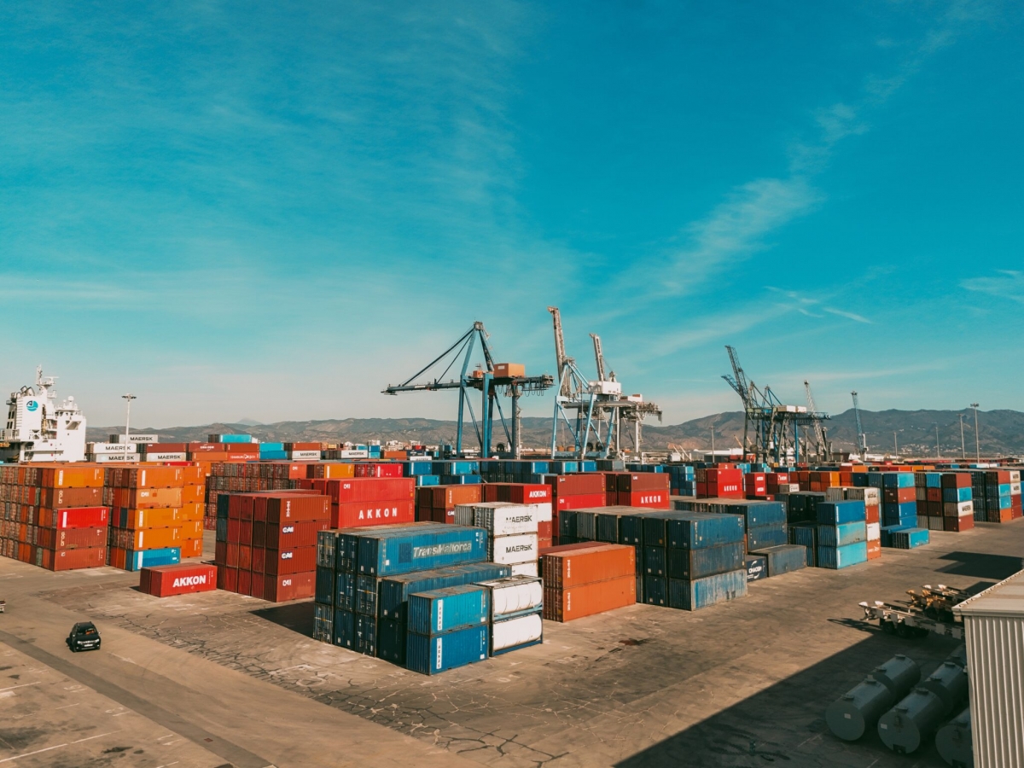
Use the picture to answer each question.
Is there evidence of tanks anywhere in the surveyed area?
Yes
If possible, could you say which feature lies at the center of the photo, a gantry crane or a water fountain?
gantry crane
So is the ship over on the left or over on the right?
left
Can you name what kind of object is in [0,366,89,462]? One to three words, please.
ship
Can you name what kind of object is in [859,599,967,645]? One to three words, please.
trailer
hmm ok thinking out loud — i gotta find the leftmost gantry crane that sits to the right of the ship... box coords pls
[375,315,560,461]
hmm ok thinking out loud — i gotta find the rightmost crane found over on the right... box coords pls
[851,392,871,466]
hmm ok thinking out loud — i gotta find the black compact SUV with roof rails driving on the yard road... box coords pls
[66,622,104,655]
